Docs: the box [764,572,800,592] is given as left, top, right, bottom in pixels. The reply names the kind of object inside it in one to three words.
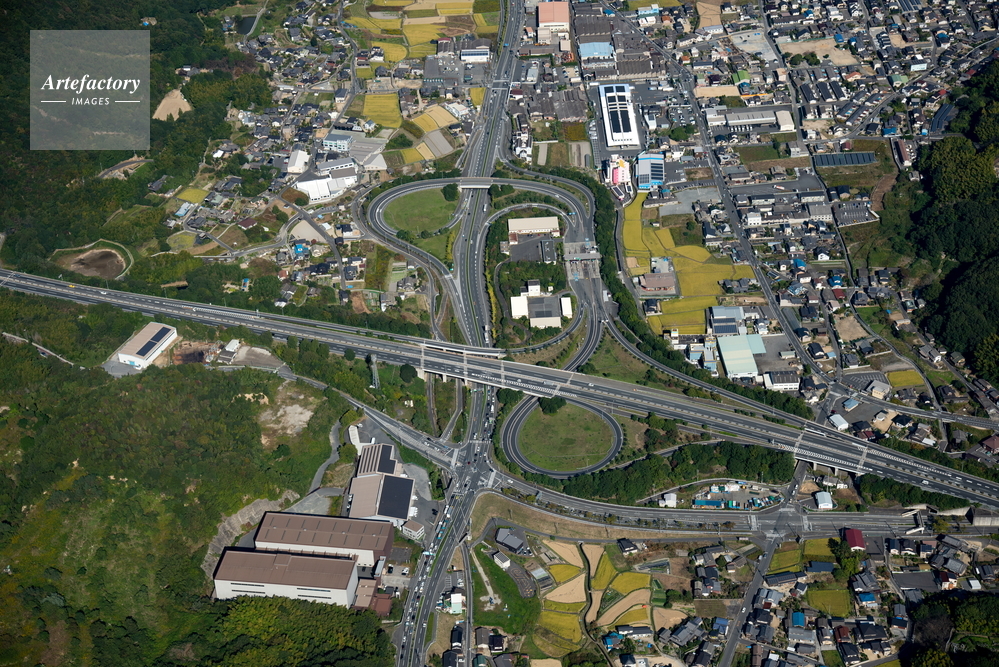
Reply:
house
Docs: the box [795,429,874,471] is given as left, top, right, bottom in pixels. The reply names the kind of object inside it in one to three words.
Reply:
bridge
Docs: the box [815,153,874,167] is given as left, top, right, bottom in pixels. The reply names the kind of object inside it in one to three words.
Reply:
solar array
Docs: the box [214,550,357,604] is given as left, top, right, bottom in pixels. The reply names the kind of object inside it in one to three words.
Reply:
building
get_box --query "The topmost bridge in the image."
[452,178,511,191]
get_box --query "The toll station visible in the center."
[564,251,600,276]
